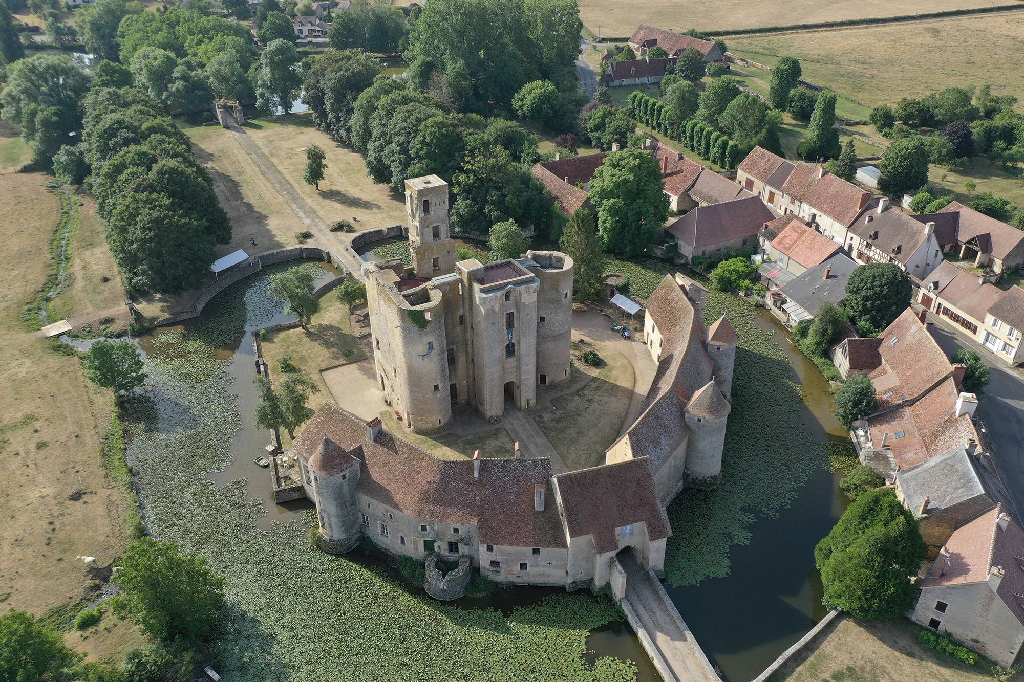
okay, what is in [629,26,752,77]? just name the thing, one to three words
barn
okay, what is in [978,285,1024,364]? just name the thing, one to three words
house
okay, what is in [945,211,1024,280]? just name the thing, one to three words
barn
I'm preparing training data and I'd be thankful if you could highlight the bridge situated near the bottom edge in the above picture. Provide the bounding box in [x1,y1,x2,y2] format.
[611,543,727,682]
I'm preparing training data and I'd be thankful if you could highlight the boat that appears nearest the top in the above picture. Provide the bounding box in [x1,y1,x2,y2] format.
[252,453,268,468]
